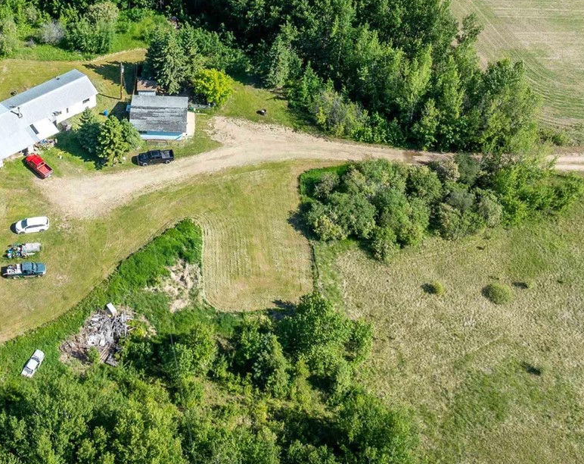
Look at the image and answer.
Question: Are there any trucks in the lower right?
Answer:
No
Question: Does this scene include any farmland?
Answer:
Yes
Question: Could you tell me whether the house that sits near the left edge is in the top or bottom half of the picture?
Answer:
top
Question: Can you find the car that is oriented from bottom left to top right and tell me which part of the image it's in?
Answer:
bottom left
